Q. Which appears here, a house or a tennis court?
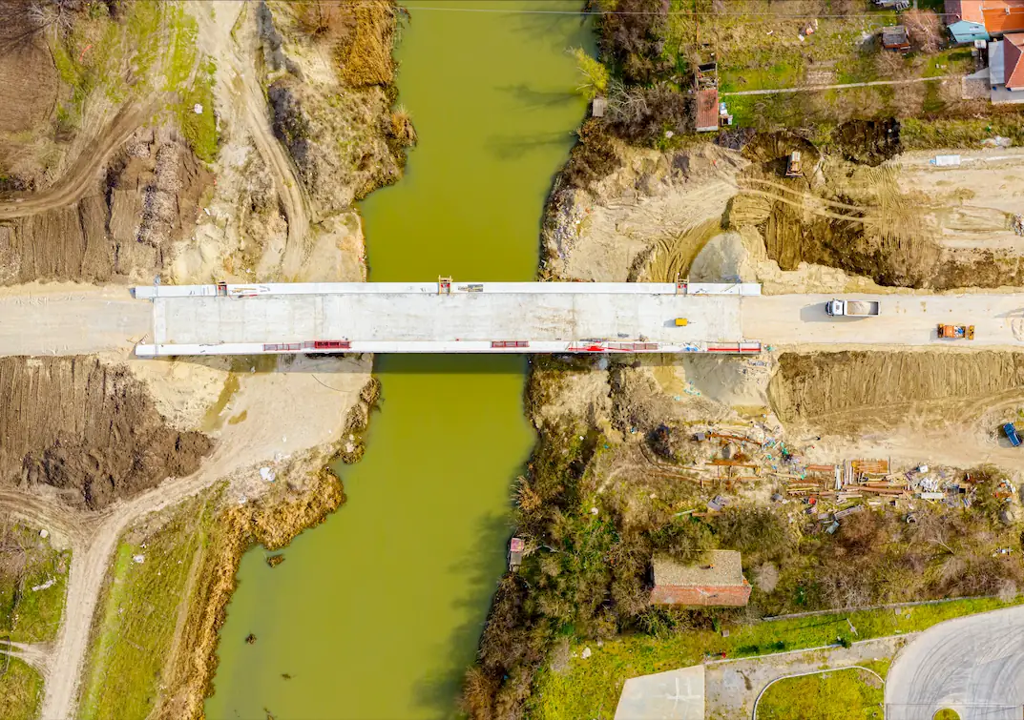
house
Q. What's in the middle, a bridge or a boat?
bridge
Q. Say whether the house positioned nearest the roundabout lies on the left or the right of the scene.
right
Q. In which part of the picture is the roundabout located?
bottom right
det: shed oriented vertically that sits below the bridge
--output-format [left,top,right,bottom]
[511,534,523,565]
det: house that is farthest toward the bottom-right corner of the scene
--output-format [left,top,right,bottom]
[649,549,752,606]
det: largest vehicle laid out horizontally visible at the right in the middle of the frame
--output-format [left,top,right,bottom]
[819,297,881,319]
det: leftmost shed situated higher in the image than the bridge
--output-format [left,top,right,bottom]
[591,97,607,123]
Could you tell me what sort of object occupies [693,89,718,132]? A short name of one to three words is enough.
shed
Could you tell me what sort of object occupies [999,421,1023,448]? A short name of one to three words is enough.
truck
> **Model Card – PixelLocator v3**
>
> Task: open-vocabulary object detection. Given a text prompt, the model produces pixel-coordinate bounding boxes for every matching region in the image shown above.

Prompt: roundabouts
[884,606,1024,720]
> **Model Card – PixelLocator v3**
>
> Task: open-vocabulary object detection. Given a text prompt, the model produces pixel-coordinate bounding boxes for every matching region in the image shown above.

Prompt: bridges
[135,284,761,355]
